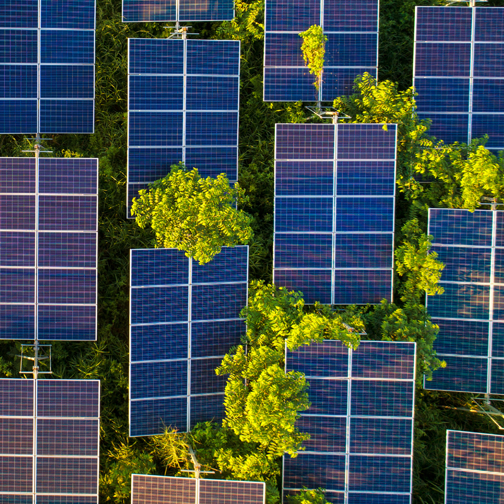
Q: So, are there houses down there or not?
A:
No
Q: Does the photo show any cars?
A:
No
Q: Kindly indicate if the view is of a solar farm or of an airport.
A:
solar farm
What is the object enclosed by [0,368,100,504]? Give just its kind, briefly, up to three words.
solar array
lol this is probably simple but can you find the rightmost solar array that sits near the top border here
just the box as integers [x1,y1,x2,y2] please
[412,0,504,190]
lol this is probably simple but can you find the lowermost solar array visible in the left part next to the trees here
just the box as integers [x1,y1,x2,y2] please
[132,467,264,504]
